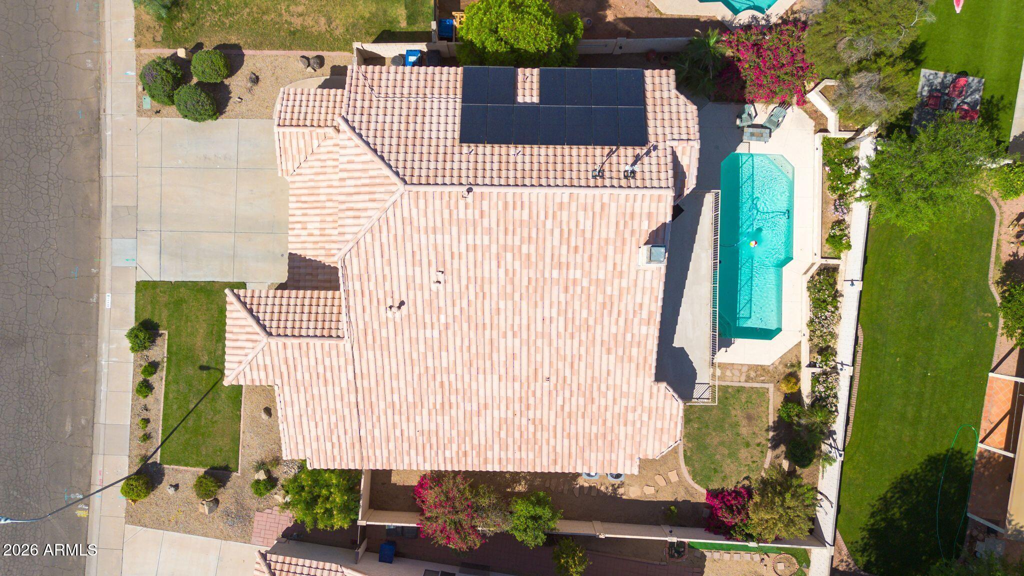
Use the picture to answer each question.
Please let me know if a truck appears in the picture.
No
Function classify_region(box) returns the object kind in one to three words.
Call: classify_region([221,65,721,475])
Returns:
house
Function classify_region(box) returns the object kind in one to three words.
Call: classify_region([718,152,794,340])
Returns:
swimming pool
